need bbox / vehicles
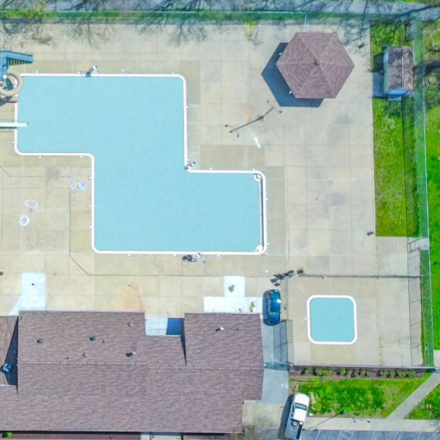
[263,289,281,326]
[283,392,308,440]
